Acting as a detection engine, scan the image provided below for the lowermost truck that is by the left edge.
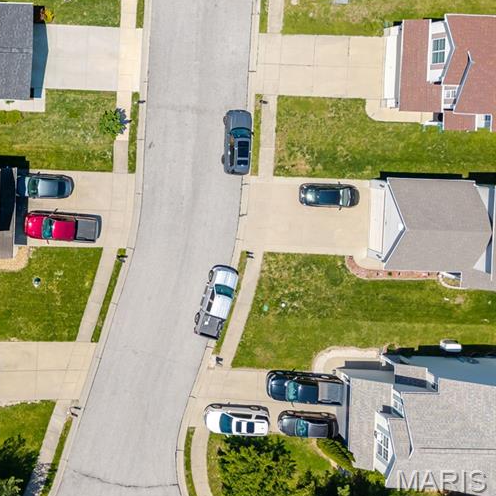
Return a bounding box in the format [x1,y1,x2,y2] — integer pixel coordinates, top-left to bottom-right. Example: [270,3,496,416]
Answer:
[24,211,99,242]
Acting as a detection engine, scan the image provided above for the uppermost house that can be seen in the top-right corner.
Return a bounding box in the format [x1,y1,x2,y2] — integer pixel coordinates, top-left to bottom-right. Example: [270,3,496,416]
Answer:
[383,14,496,133]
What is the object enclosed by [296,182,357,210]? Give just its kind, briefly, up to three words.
car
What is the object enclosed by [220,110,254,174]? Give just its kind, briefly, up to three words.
car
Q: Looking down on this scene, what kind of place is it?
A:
residential area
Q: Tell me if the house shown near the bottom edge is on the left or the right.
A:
right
